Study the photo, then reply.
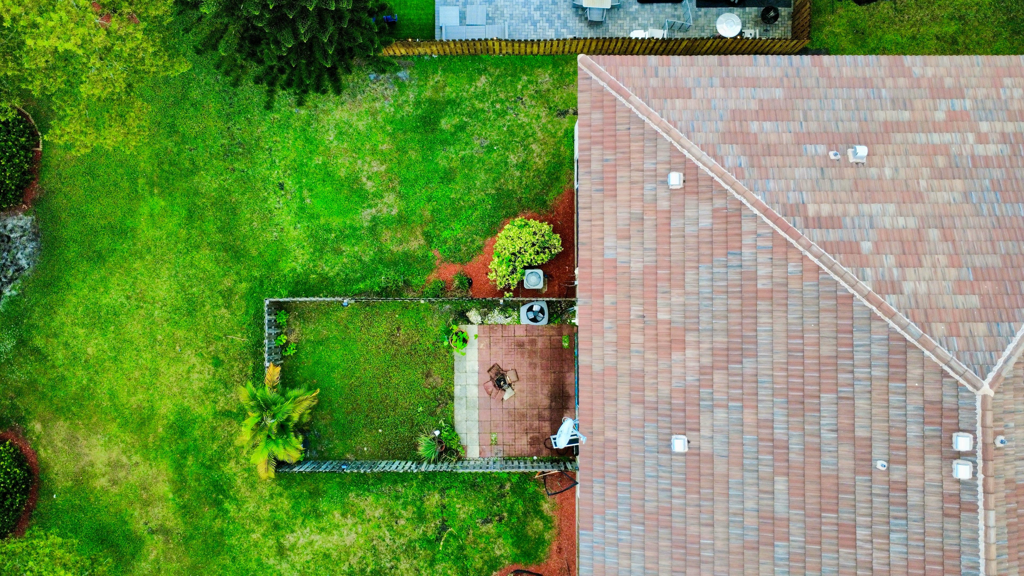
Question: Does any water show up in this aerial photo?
No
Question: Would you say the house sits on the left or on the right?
right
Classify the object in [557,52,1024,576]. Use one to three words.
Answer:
house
